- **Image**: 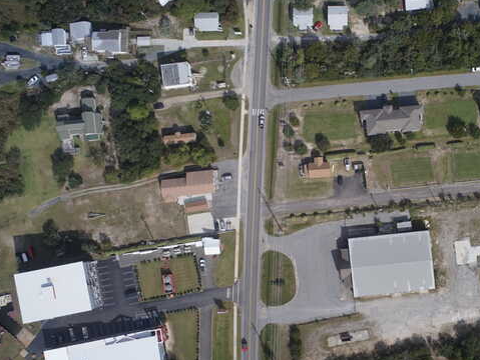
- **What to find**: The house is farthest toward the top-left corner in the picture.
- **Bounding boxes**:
[41,29,67,47]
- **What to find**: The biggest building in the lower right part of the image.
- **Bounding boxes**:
[340,231,434,298]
